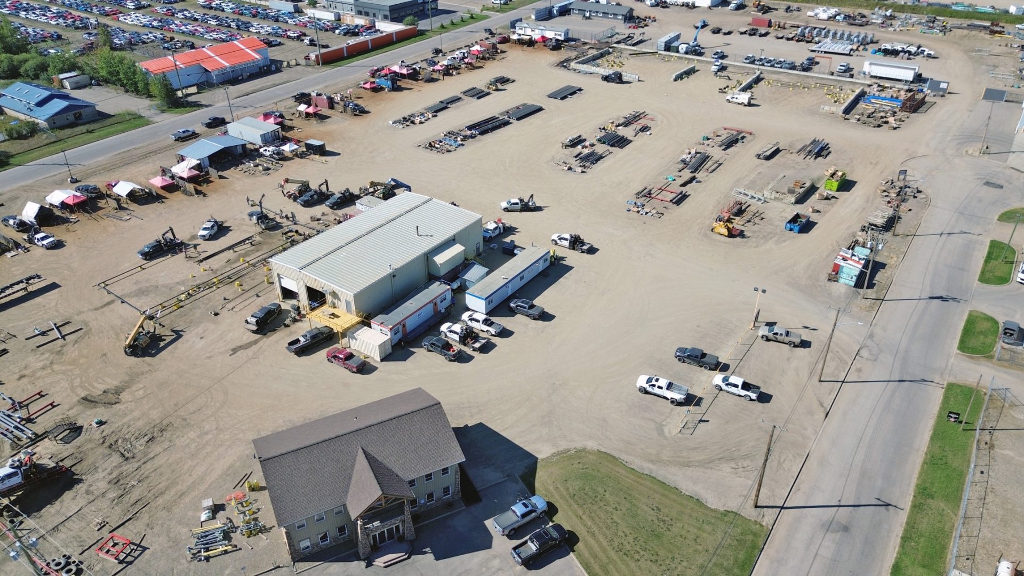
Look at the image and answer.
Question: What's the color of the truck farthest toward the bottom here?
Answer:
black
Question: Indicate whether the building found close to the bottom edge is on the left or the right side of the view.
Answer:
left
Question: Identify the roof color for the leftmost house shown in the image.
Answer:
blue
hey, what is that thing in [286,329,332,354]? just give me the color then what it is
black truck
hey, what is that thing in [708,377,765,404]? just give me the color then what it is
white truck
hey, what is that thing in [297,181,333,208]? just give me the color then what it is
black truck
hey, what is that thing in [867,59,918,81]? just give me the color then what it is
white trailer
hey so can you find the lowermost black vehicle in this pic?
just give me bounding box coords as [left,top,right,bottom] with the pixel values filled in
[507,525,573,568]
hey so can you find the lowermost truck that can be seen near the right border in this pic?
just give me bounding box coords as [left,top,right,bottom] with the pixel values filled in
[999,320,1022,352]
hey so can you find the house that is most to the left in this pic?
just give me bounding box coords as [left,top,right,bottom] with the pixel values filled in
[4,81,108,129]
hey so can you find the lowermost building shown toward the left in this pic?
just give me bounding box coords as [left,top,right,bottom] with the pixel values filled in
[249,388,466,568]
